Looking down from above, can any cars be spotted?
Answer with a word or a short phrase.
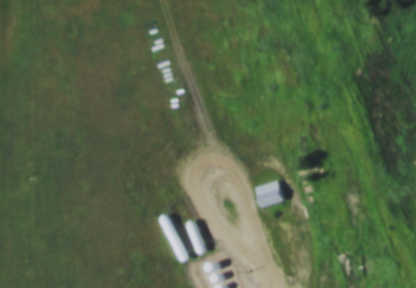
No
